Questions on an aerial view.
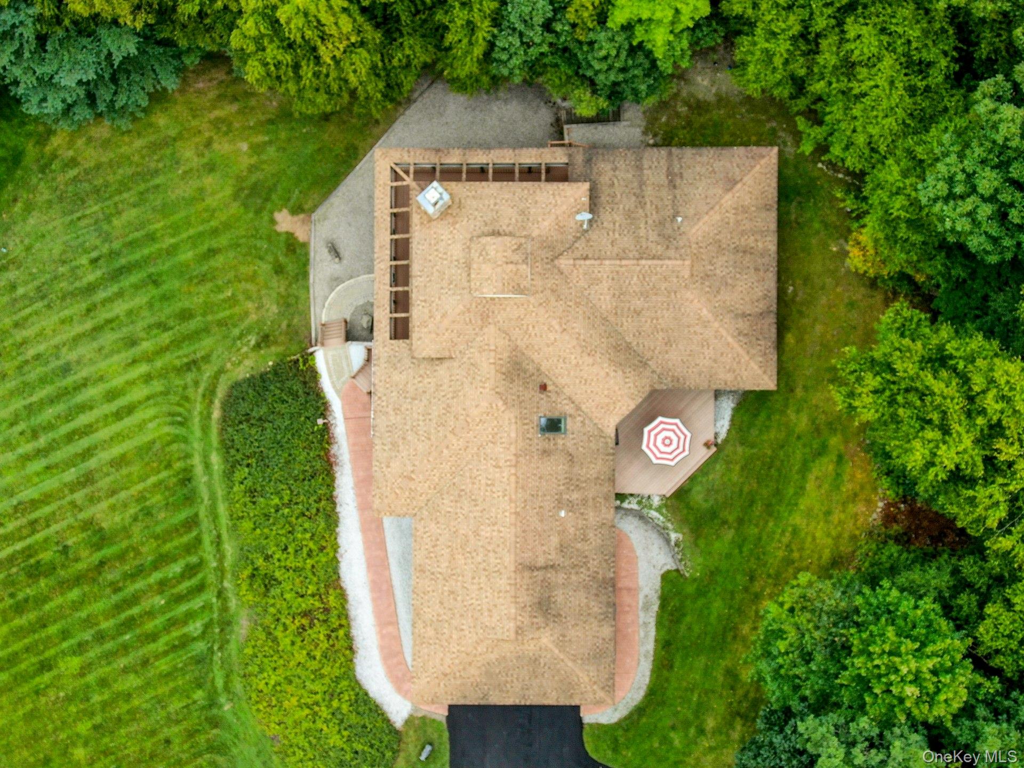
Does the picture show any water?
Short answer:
No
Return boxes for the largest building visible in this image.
[372,146,779,705]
